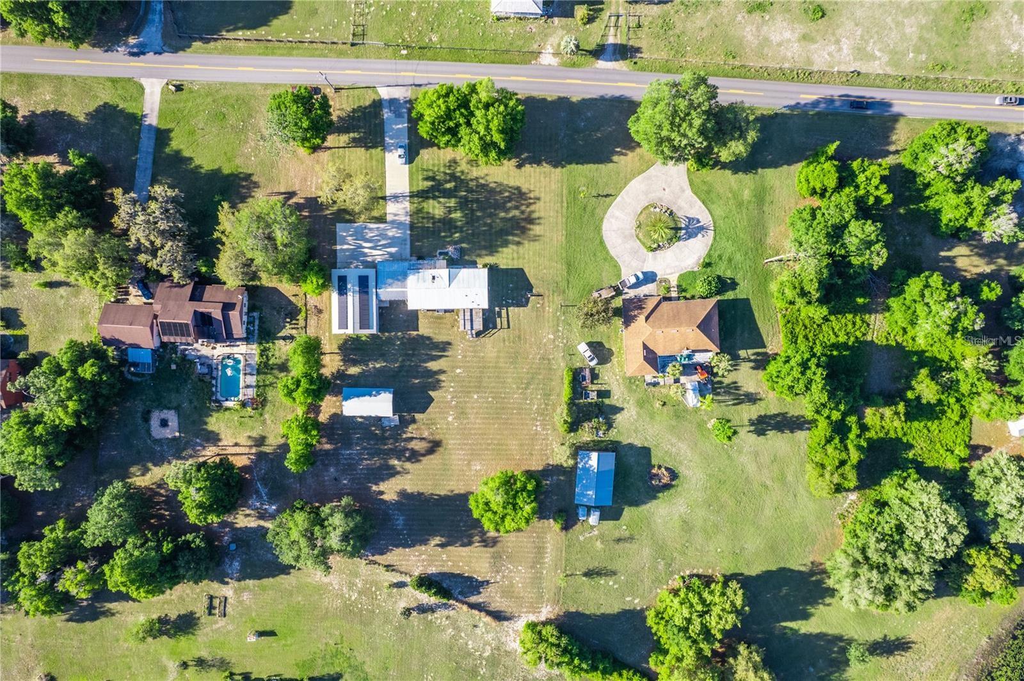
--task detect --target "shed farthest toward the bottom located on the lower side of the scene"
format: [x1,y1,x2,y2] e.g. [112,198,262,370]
[574,448,615,506]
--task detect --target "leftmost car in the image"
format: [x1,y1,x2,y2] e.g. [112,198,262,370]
[135,279,153,302]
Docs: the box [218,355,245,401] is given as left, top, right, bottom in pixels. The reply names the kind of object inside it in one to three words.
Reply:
swimming pool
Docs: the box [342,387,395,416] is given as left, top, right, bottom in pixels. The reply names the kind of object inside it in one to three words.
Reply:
barn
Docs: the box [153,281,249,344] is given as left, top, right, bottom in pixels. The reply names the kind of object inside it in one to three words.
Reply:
house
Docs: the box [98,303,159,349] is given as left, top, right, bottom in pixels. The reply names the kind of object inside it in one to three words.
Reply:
building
